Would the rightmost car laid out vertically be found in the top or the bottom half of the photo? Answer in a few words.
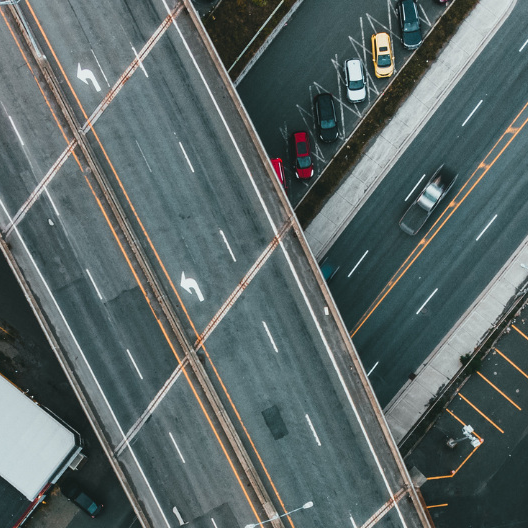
top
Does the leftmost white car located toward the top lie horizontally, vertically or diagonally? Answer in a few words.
vertically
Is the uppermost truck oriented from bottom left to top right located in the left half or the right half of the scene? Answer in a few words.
right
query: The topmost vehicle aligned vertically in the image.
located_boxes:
[396,0,424,52]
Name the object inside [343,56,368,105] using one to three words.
car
